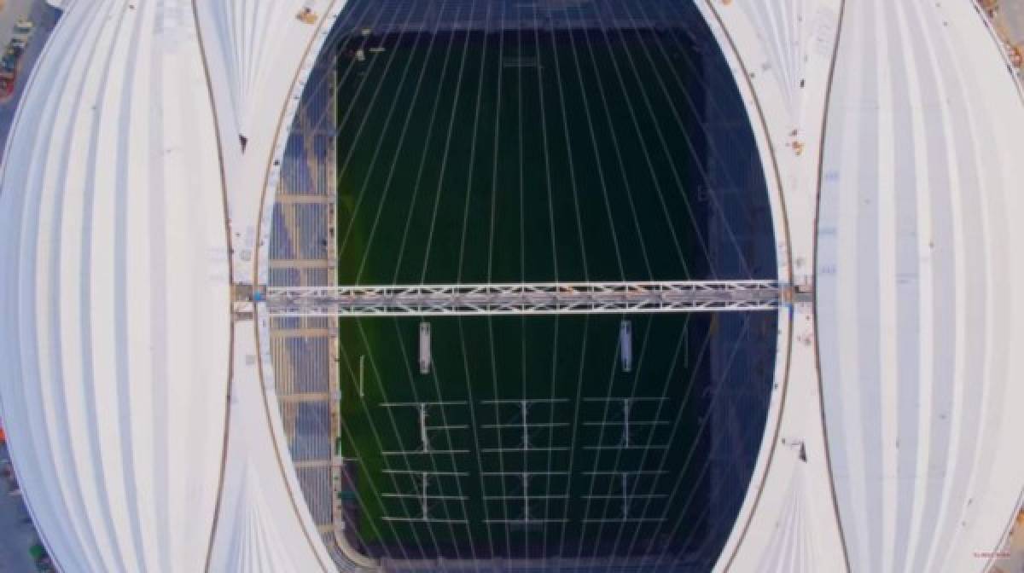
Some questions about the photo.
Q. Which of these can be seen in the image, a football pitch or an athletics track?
football pitch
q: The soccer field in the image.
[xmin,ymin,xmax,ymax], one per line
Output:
[338,35,706,551]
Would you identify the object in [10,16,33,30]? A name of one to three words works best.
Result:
vehicle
